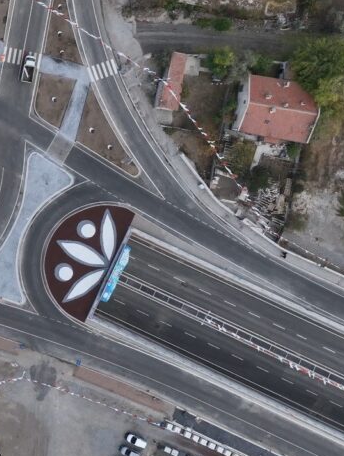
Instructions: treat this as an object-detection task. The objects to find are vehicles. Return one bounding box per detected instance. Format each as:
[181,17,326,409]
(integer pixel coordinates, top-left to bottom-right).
[126,433,149,450]
[21,53,37,83]
[120,445,141,456]
[179,449,191,456]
